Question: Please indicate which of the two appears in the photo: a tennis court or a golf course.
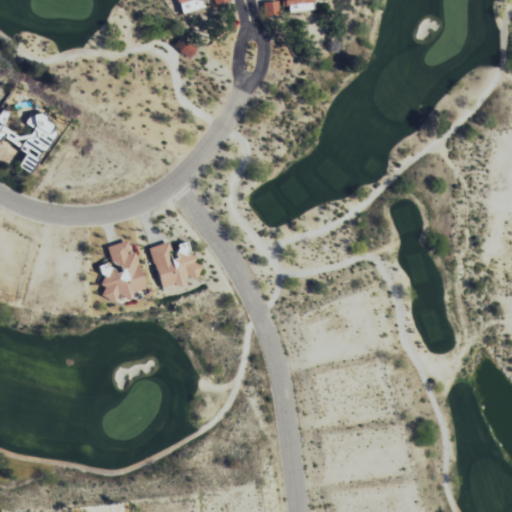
golf course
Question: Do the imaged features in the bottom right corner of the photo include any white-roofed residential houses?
No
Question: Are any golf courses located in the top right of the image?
Yes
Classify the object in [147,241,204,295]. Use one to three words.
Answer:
house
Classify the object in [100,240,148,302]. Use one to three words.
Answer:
house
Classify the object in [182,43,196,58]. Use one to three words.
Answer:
gazebo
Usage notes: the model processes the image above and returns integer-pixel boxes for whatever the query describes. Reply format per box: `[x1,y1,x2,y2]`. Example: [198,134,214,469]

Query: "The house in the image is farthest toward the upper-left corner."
[0,110,58,172]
